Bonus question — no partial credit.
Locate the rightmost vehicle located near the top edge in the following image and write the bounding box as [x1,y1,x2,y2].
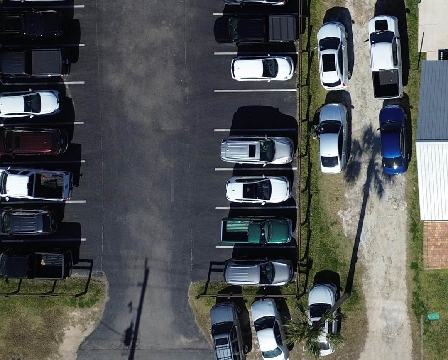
[366,14,405,100]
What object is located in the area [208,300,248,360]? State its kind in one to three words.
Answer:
car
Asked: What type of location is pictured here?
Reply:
parking lot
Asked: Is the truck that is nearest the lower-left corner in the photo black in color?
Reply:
Yes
